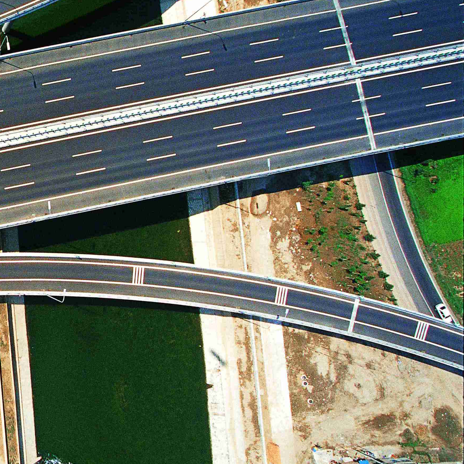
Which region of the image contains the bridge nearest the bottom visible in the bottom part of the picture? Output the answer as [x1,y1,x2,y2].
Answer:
[0,253,464,370]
